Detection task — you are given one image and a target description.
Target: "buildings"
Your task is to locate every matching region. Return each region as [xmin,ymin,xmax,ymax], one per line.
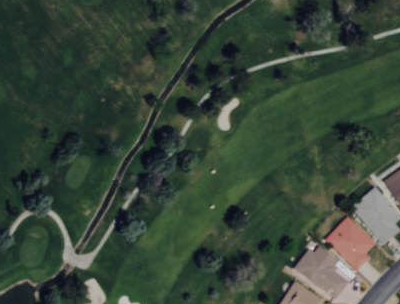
[354,188,400,244]
[382,169,400,209]
[294,249,346,303]
[325,216,375,270]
